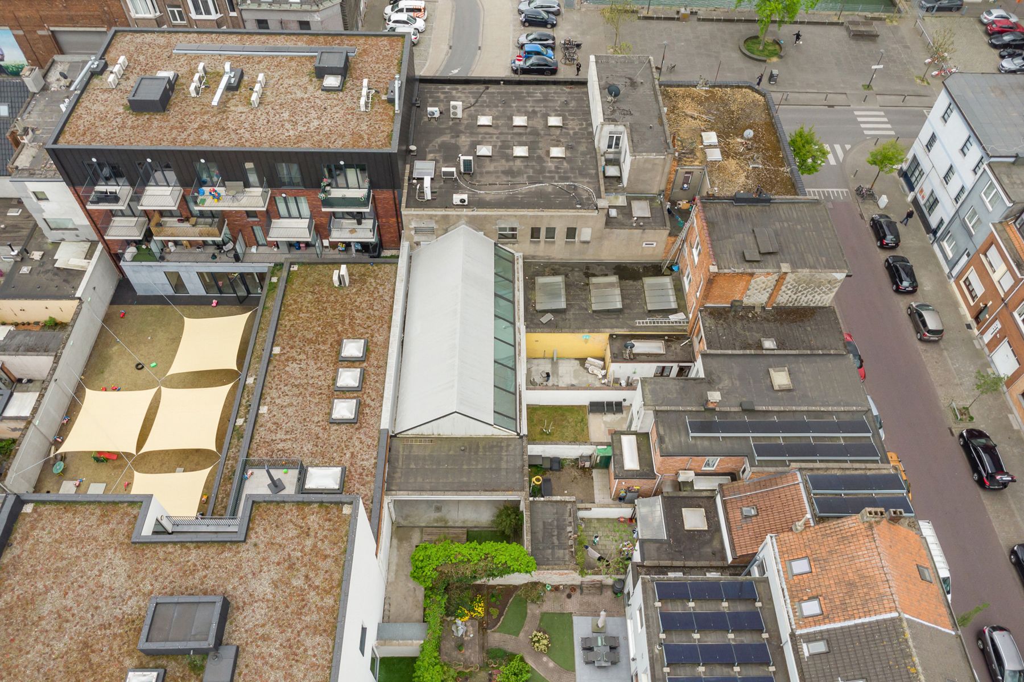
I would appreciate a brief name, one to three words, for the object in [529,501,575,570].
shed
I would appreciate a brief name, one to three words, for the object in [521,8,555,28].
car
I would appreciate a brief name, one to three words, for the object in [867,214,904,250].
car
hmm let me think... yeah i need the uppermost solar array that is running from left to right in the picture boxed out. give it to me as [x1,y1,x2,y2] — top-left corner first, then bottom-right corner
[170,43,359,59]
